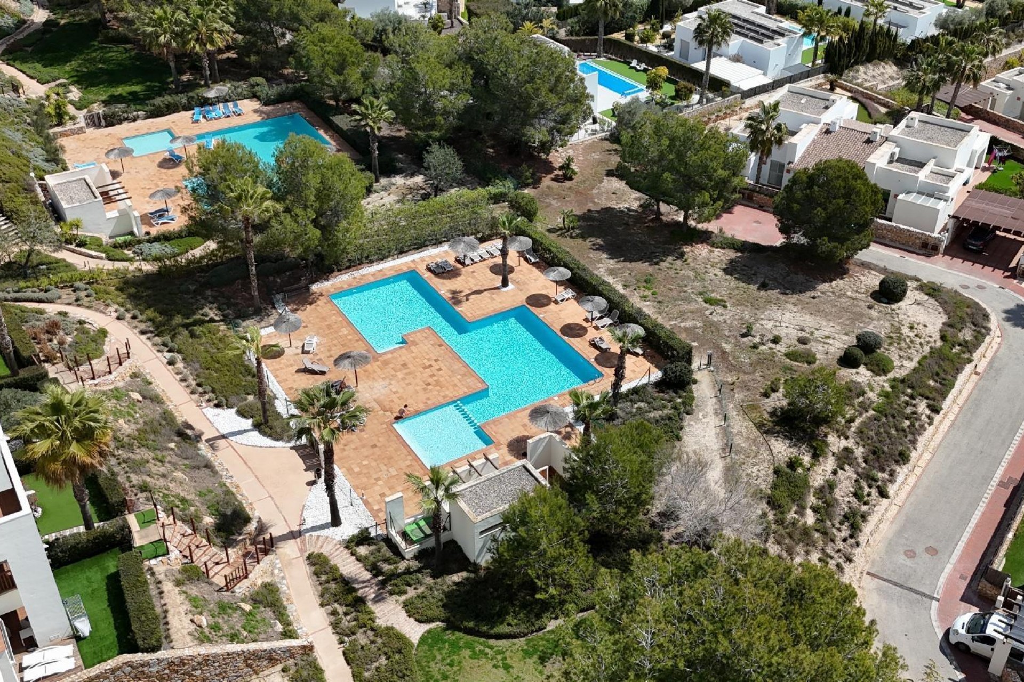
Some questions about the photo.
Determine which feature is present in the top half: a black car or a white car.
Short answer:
black car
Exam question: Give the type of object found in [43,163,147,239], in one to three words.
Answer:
building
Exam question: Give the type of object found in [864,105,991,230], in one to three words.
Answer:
house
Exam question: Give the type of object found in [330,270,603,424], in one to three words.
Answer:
swimming pool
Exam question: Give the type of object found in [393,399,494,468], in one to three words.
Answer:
swimming pool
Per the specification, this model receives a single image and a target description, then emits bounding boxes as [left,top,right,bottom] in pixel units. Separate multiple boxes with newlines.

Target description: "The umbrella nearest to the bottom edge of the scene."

[527,402,571,434]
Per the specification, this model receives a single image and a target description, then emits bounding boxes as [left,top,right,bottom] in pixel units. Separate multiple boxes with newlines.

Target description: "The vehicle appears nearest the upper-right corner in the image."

[967,225,1001,251]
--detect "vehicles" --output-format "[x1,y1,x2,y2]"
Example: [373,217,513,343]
[954,615,1024,679]
[967,225,1001,251]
